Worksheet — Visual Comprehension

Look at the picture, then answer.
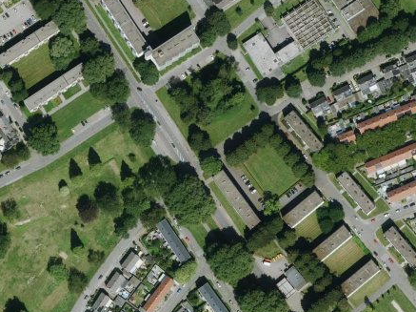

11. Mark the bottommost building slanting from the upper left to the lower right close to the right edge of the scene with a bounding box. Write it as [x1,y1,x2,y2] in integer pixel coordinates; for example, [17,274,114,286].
[382,224,416,269]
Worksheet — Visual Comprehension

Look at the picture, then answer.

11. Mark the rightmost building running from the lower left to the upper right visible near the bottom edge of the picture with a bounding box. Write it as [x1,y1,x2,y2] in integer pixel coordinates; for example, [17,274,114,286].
[340,260,382,300]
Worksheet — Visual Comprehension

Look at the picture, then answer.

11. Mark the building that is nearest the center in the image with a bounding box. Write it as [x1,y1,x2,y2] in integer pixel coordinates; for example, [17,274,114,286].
[212,170,259,232]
